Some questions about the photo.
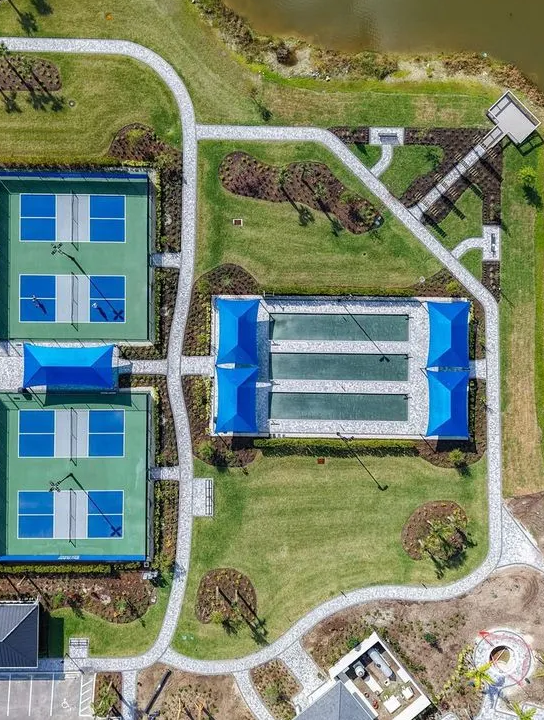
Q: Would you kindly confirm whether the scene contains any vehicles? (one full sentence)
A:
No, there is no vehicle in the image.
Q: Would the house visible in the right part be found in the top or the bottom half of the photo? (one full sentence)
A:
The bottom half of the photo is where the house visible in the right part is.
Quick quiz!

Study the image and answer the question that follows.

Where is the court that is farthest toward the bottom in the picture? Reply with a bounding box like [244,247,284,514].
[18,490,124,539]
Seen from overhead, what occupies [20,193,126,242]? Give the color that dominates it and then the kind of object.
blue sports court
